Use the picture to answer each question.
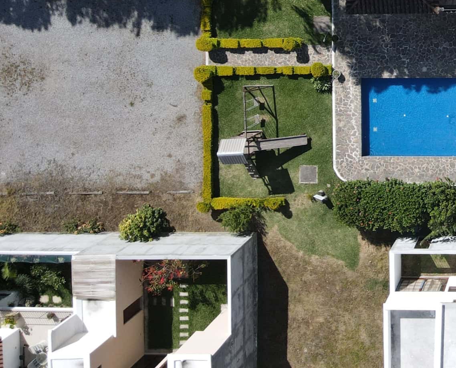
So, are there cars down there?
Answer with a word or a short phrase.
No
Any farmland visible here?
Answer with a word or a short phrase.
No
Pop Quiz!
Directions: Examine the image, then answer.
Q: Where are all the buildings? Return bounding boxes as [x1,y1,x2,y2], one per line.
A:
[383,238,456,368]
[343,0,442,16]
[0,232,255,368]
